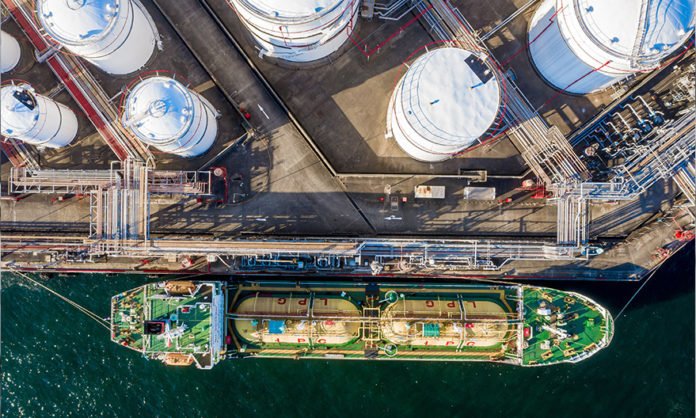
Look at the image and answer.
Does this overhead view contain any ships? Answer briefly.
Yes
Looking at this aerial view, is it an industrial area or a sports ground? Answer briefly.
industrial area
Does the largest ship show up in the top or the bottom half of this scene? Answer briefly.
bottom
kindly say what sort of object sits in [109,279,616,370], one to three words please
ship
